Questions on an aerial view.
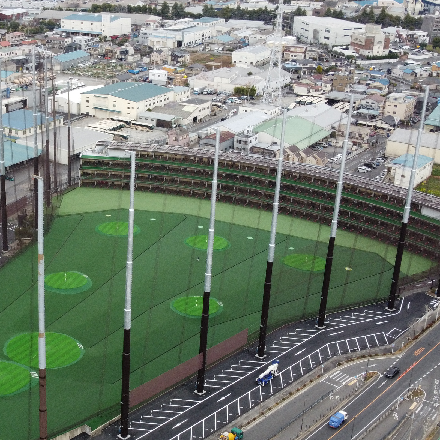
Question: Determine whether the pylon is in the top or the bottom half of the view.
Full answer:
The top half of the photo is where the pylon is.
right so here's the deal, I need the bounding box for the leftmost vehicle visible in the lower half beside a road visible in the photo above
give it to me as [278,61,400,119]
[222,423,245,440]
